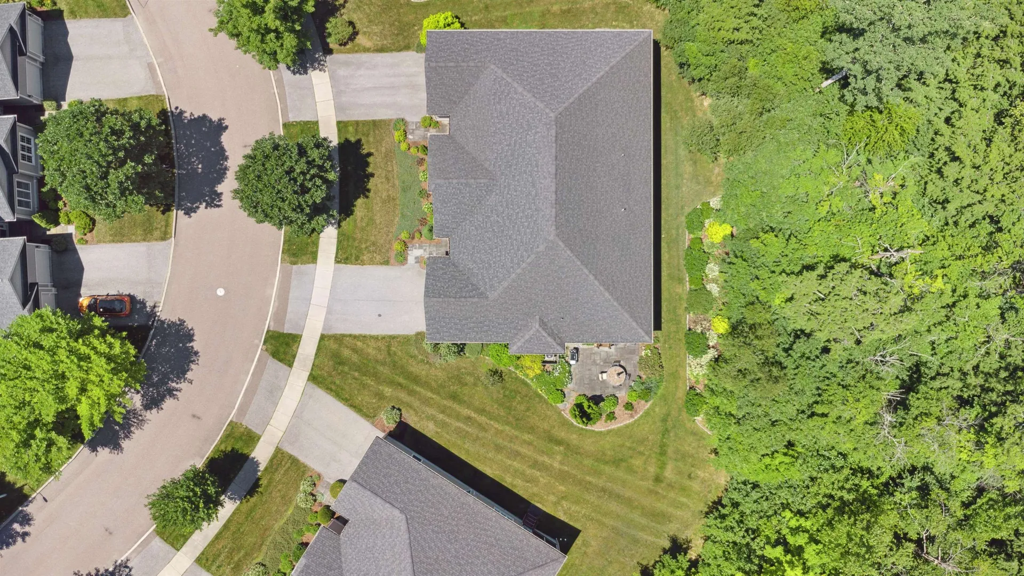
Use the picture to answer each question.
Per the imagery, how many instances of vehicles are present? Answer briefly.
1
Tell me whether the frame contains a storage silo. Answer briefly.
No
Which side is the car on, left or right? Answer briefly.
left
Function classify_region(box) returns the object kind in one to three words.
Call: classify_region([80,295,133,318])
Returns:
car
